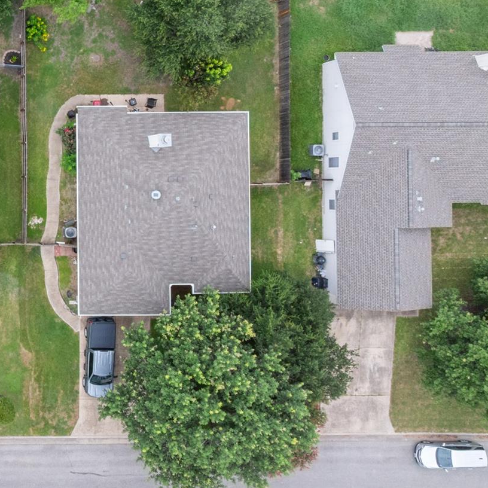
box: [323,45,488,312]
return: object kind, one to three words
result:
house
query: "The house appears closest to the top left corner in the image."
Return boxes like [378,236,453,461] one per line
[68,106,251,316]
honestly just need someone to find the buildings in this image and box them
[323,45,488,312]
[68,106,251,316]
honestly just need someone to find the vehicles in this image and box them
[413,439,484,474]
[81,316,120,398]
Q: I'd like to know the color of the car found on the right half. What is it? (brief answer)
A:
white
